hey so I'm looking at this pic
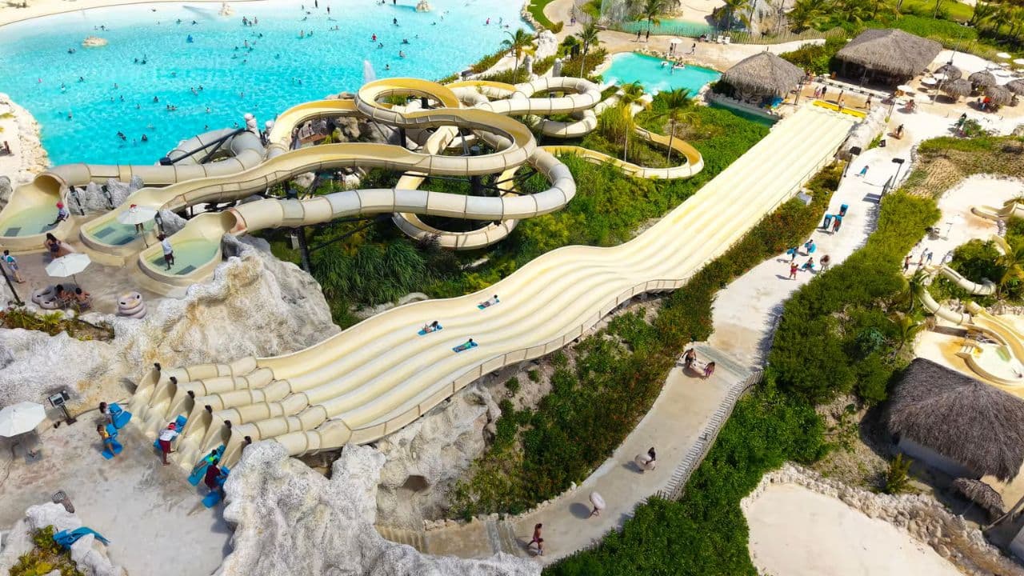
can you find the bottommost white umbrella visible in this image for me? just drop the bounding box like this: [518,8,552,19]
[0,382,46,467]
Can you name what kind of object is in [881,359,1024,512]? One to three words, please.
shed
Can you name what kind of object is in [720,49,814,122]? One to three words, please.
shed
